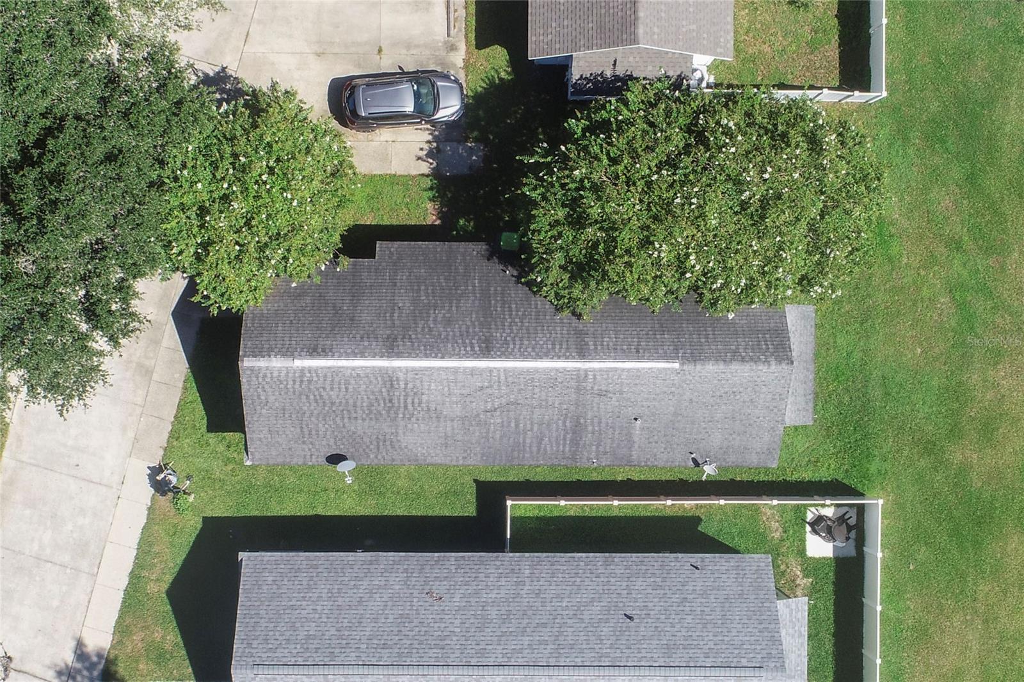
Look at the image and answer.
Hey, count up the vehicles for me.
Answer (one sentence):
In total, there is 1 vehicle in the scene.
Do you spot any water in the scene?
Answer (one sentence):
No, there's no water in this view.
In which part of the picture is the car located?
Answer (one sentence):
You can find the car in the top area of the picture.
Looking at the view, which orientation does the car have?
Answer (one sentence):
What the image shows is the car lying from left to right.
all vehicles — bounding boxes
[341,68,467,134]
